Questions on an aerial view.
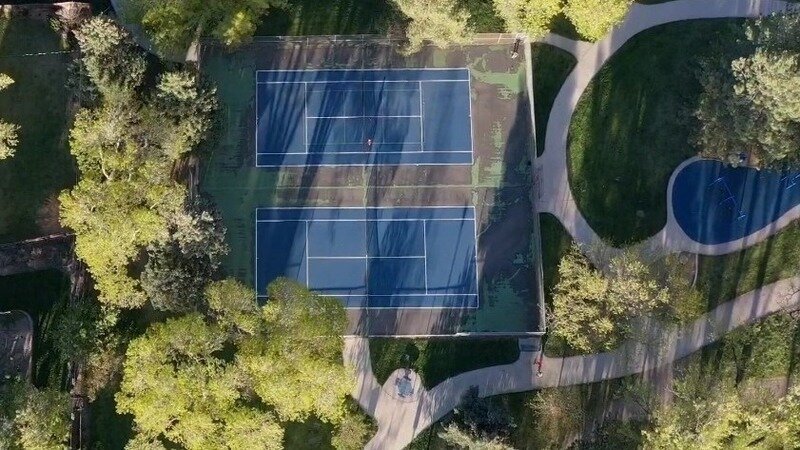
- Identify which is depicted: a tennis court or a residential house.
tennis court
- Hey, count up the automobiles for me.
none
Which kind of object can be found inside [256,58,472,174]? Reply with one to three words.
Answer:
tennis court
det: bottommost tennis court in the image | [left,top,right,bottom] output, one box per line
[255,198,477,318]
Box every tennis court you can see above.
[255,198,477,318]
[256,58,472,174]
